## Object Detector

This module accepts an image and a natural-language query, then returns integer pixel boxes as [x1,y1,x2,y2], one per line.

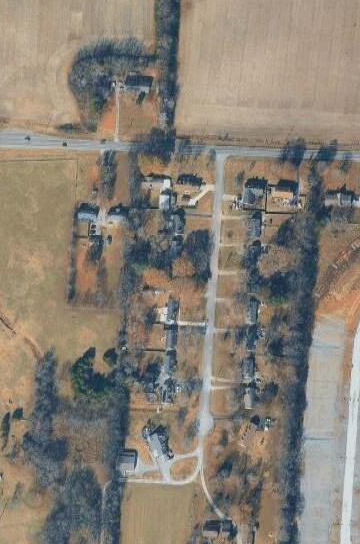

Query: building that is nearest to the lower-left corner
[118,449,136,472]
